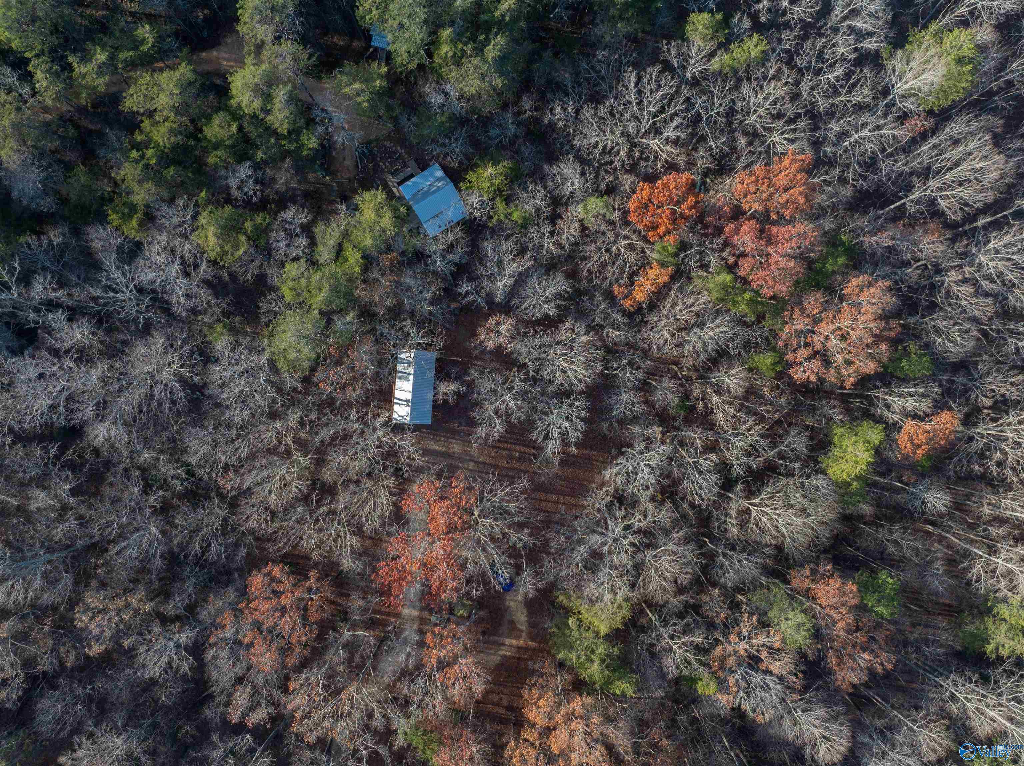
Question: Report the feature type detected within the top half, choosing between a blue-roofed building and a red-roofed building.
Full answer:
Looking within the top half, you will find a blue-roofed building.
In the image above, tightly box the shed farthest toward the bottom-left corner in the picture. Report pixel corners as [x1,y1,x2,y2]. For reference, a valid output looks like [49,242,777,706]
[392,349,437,424]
